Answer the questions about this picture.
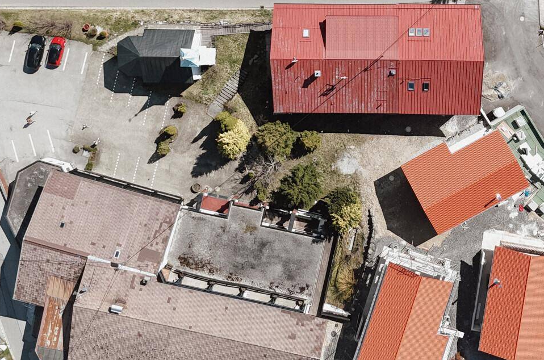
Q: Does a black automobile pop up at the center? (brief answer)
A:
No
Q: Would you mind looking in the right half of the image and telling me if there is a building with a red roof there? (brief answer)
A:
Yes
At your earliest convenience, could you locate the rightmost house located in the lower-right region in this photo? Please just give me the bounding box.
[478,243,544,360]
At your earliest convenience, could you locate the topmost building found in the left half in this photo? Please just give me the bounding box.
[117,29,216,83]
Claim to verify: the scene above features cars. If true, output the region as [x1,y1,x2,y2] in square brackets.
[26,35,48,71]
[47,36,67,67]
